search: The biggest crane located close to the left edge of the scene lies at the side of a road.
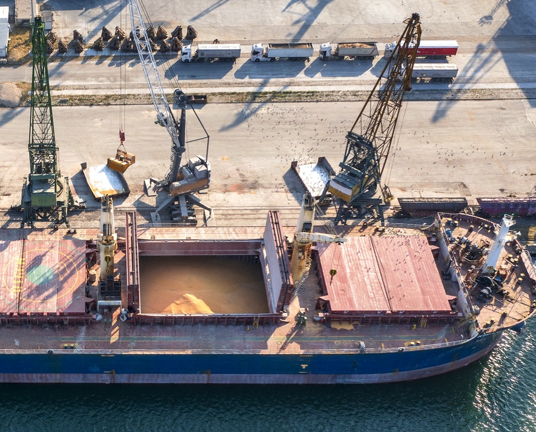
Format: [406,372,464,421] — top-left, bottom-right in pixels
[8,12,85,231]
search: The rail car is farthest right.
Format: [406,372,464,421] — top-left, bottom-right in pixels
[469,189,536,213]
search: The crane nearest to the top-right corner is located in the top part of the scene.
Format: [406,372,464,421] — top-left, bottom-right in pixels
[315,8,427,231]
